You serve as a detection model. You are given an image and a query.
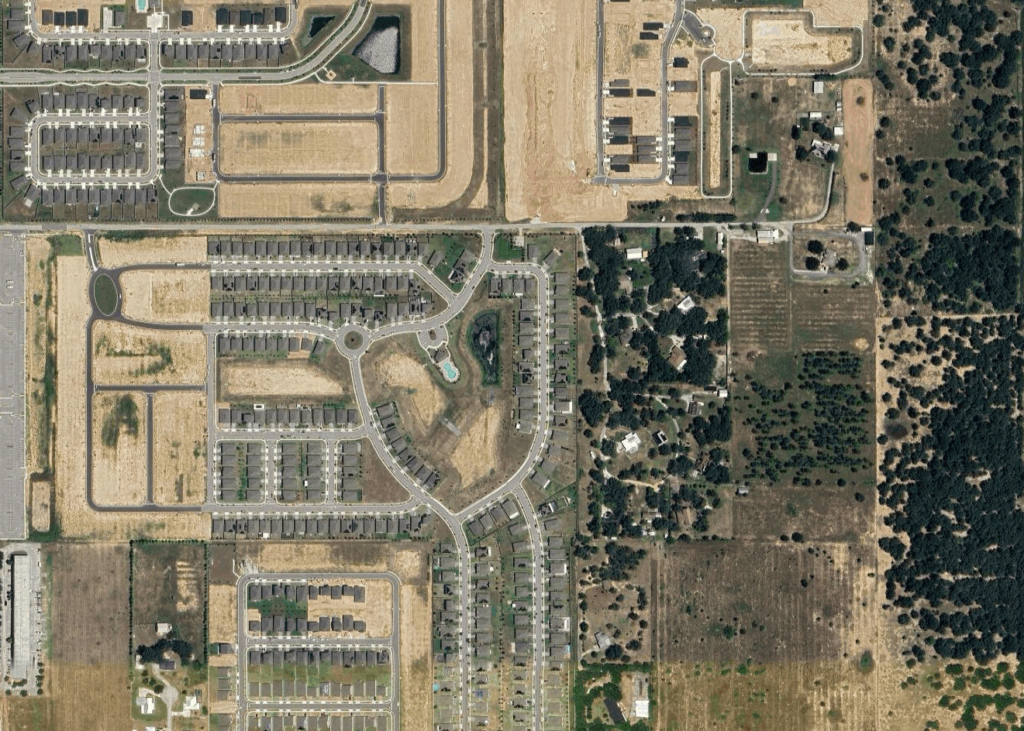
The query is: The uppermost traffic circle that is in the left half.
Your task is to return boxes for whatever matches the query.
[89,269,123,320]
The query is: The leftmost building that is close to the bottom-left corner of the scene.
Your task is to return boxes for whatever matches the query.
[14,555,29,680]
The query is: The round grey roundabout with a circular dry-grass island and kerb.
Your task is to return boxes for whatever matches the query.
[338,324,369,355]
